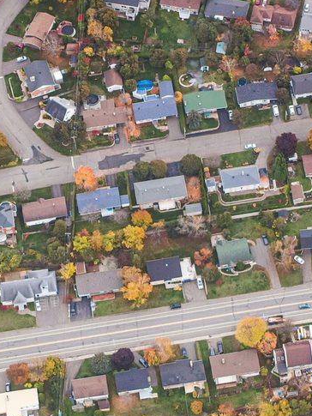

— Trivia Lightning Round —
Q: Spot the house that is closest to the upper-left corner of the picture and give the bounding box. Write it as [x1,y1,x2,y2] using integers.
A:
[25,12,55,51]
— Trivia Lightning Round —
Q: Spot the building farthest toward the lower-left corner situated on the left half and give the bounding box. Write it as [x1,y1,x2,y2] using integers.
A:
[0,388,40,416]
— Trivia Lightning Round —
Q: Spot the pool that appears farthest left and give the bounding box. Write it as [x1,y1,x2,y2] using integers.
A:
[60,24,75,38]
